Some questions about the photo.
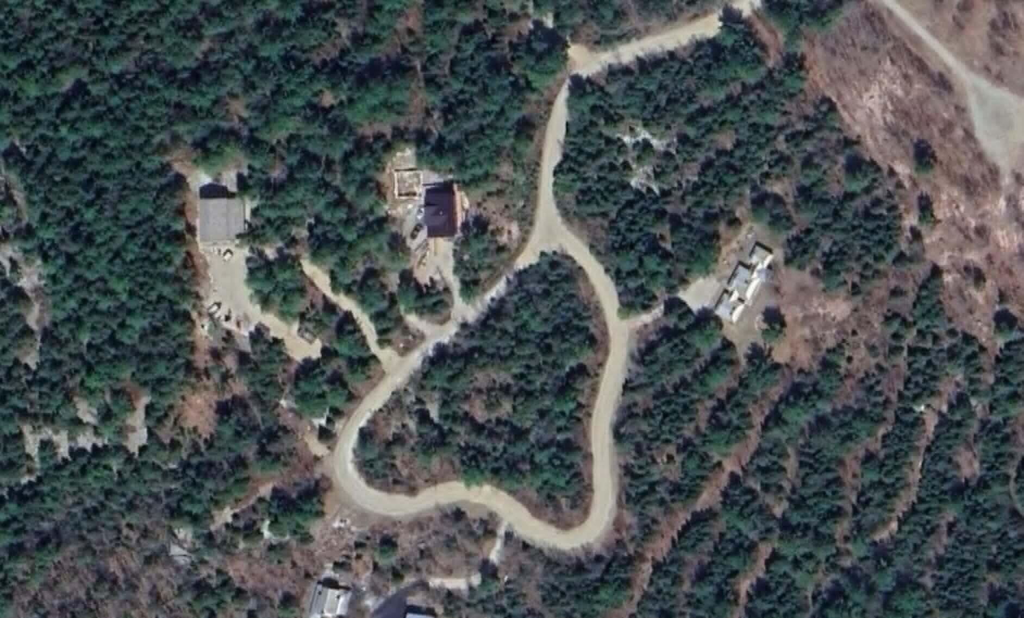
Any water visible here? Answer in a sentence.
No, there's no water in this view.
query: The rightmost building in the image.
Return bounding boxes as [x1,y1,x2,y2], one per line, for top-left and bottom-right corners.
[714,245,775,322]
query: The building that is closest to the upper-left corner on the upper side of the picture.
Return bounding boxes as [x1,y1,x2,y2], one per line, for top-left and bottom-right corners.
[199,198,245,239]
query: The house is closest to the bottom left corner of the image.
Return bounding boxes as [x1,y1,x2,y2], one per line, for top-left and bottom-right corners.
[311,583,352,618]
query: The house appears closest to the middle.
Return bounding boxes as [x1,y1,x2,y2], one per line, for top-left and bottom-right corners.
[426,187,465,237]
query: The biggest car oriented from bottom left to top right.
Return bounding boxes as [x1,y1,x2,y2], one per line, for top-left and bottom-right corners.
[408,223,423,239]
